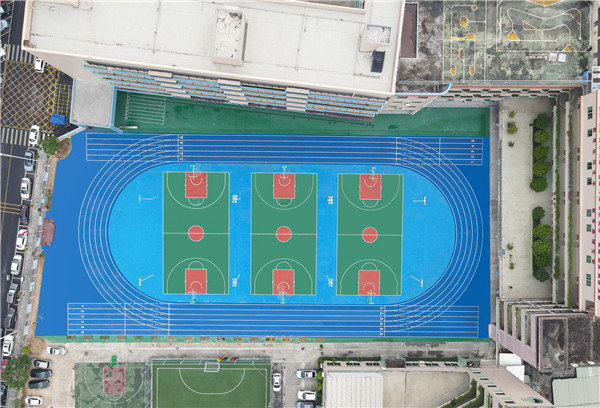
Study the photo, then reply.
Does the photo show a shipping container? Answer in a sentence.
No, there appears to be no shipping container in this shot.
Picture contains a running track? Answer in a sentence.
Yes, I can see a running track in this picture.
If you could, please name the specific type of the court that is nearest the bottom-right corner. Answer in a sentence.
The court that is nearest the bottom-right corner in the image is a basketball court.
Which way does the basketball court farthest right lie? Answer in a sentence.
The basketball court farthest right runs from top to bottom in the image.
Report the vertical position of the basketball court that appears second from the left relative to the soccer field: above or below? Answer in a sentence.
Relative to the soccer field, the basketball court that appears second from the left lies above it.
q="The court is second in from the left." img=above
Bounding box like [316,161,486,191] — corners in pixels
[162,164,230,301]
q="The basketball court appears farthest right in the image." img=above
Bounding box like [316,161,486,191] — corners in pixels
[336,167,404,303]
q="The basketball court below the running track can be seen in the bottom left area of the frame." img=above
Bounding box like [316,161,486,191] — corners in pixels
[74,362,146,408]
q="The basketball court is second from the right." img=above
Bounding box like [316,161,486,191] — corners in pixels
[250,165,318,301]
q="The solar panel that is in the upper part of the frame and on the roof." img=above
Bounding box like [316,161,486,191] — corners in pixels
[370,50,385,73]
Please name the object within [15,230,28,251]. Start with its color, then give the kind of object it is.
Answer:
white vehicle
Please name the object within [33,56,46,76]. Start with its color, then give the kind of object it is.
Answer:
white vehicle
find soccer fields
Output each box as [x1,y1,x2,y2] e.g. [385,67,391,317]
[151,359,270,408]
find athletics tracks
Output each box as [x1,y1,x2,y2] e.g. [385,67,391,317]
[34,129,490,338]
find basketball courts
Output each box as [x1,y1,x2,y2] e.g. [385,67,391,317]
[336,167,404,303]
[162,164,230,301]
[74,362,146,408]
[250,165,318,301]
